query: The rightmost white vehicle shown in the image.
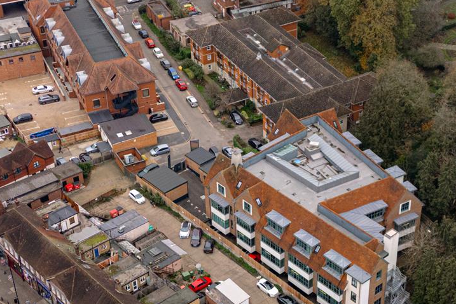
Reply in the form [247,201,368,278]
[254,279,280,299]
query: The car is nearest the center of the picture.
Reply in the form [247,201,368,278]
[220,145,235,161]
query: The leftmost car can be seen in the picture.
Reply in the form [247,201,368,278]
[10,113,35,125]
